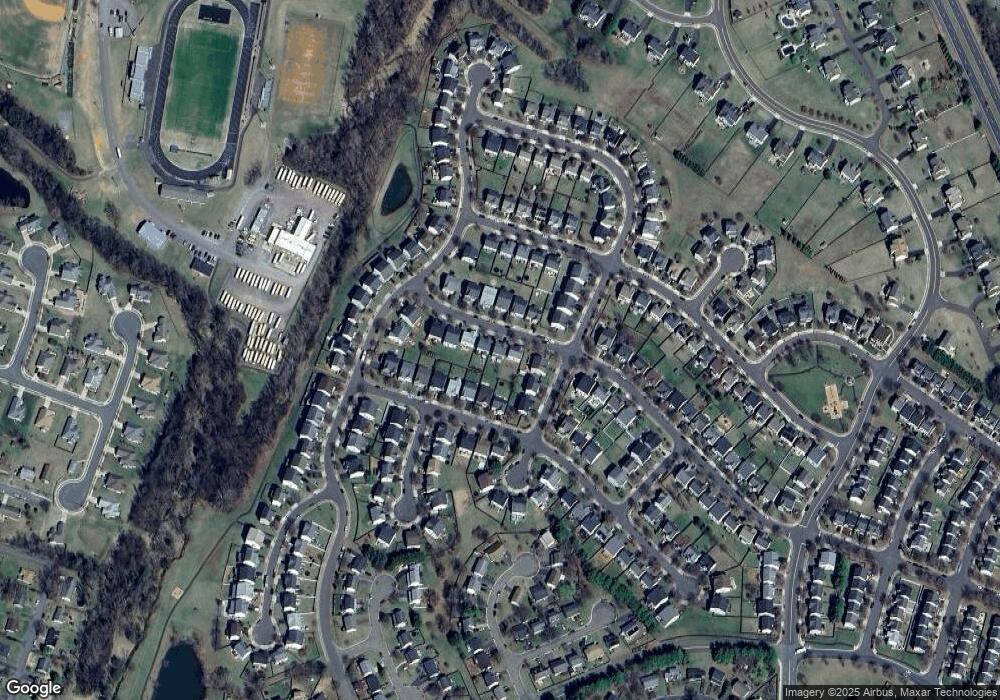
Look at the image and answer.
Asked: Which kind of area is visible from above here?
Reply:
residential area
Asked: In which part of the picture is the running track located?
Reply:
top left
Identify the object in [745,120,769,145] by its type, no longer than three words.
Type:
house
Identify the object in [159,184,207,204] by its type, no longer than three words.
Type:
building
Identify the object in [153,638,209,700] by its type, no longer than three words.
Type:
pond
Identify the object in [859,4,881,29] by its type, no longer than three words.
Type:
house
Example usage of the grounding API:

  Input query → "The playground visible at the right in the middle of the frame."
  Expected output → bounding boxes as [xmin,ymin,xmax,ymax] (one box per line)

[822,384,849,420]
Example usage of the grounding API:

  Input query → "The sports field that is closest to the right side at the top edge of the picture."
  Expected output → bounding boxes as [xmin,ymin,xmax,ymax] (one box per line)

[165,22,241,139]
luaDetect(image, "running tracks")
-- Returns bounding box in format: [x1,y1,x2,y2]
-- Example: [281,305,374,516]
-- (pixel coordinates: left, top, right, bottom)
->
[146,0,260,185]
